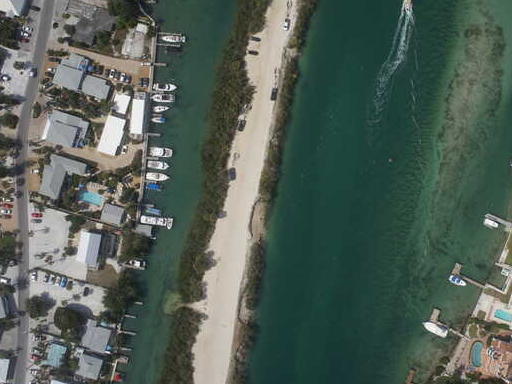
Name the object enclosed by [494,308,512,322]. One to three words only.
swimming pool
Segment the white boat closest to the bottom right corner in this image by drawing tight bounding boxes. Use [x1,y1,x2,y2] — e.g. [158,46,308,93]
[424,321,450,339]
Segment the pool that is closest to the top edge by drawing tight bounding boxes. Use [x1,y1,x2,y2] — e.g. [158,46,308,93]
[78,189,104,207]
